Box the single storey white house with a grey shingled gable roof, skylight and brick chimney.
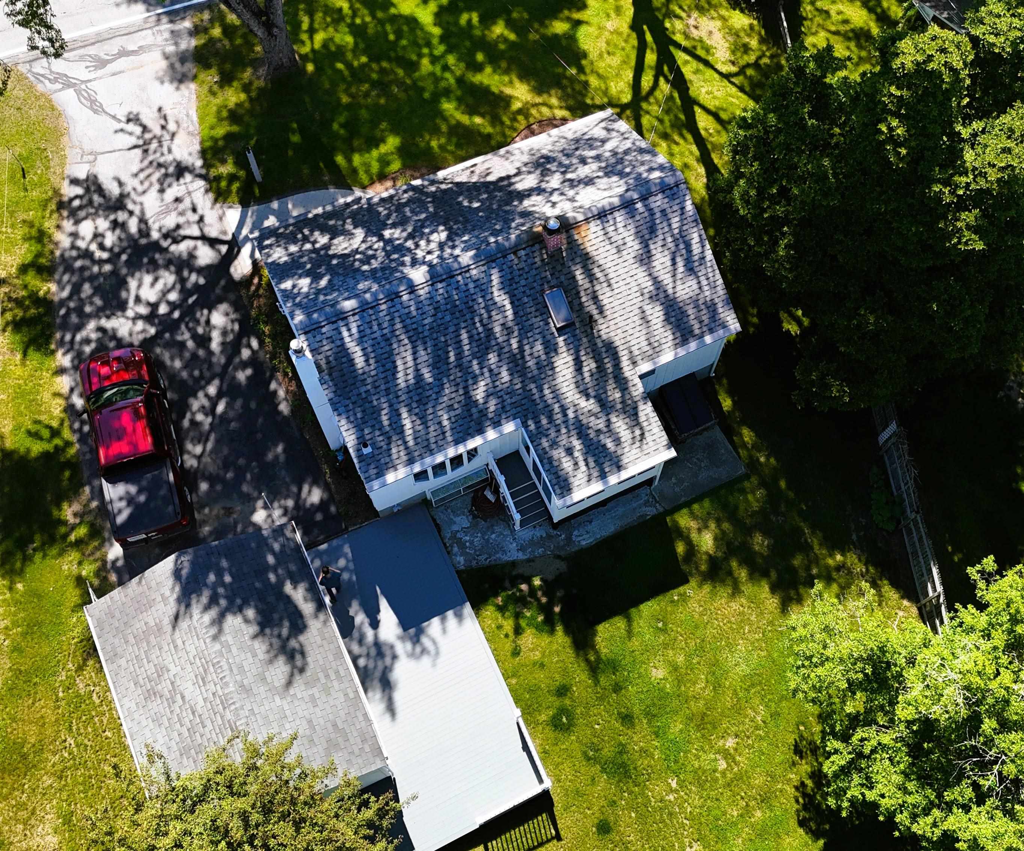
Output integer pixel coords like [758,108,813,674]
[250,102,746,532]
